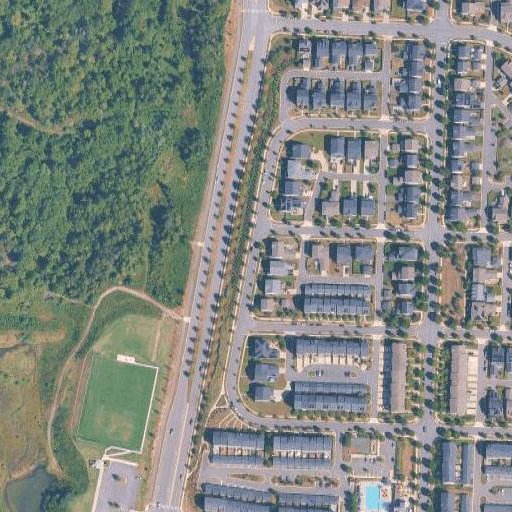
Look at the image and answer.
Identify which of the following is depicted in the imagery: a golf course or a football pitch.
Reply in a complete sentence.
I can see a football pitch in this picture.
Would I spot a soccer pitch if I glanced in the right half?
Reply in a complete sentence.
No, there is no soccer pitch in the right half.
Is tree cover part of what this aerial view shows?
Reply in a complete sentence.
Yes, tree cover can be seen from above here.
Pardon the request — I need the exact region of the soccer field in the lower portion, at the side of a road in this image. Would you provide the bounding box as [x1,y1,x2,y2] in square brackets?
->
[76,353,159,453]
